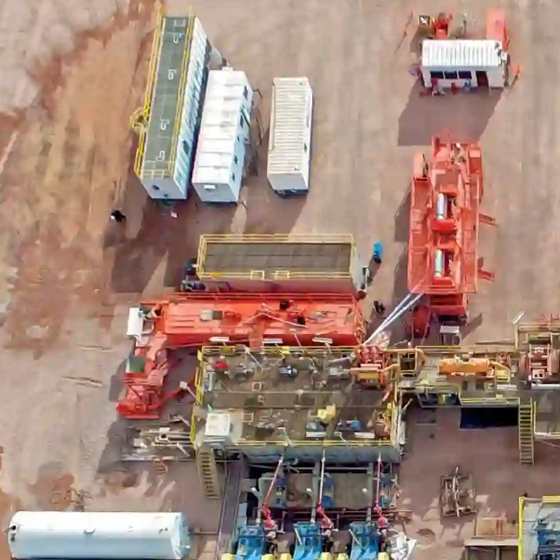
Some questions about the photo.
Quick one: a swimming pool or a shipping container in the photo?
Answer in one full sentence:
There is a shipping container in the scene.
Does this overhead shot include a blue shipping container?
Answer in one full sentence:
No, there isn't any blue shipping container down there.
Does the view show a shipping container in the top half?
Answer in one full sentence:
Yes, a shipping container is visible in the top half.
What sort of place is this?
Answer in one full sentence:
The area seen from above is an industrial area.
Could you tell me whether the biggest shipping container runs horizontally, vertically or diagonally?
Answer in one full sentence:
What the image shows is the biggest shipping container lying vertically.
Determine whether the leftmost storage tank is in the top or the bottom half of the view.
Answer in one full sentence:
It is in the bottom half that the leftmost storage tank appears.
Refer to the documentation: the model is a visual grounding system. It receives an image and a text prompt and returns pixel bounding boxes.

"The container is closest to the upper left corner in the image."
[117,4,199,199]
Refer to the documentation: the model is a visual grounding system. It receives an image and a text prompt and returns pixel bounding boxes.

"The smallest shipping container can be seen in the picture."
[267,77,314,196]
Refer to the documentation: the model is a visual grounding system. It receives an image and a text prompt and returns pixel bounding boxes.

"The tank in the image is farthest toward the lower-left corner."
[4,511,222,560]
